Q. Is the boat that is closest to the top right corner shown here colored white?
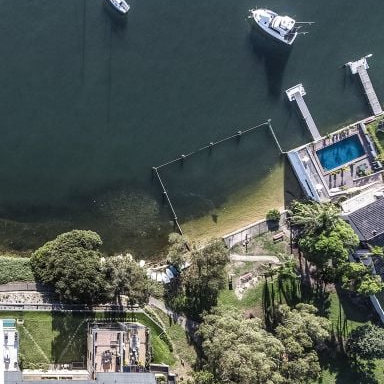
Yes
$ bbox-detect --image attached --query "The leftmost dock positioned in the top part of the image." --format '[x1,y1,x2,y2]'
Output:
[285,81,323,140]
